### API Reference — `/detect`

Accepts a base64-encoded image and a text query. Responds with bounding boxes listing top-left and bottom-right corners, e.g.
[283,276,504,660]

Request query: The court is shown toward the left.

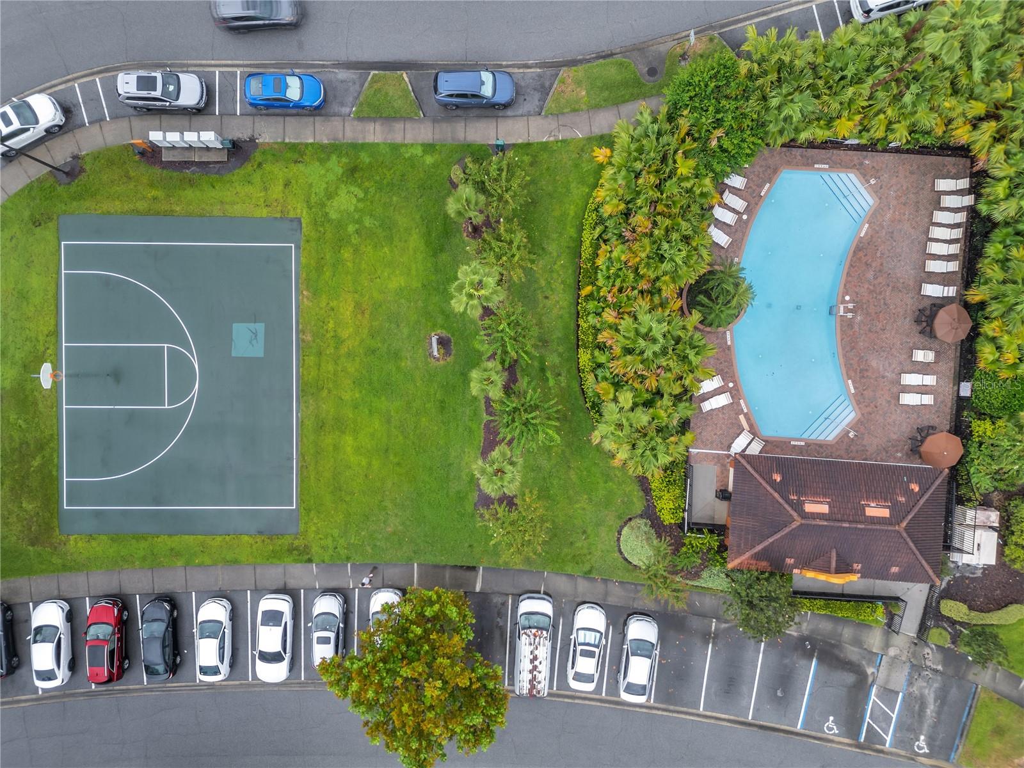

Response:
[58,215,301,535]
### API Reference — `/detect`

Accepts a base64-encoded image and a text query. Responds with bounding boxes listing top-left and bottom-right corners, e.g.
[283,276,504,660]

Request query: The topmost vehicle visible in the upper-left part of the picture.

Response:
[219,0,302,34]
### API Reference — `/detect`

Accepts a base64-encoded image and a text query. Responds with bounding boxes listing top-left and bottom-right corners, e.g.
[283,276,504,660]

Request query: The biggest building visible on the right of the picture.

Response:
[723,453,952,587]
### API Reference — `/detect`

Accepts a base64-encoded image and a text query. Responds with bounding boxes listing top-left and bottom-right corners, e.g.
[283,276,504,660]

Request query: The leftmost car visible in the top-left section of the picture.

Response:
[0,101,68,161]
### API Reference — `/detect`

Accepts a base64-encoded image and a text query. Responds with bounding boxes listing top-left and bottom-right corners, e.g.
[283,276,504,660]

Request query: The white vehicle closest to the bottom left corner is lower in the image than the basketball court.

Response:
[27,601,77,687]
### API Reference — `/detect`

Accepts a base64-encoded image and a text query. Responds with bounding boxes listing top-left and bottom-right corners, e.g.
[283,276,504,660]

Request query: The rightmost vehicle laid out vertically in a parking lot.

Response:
[614,615,658,700]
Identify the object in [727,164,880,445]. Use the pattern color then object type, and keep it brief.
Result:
blue swimming pool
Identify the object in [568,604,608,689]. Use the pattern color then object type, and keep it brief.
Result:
white car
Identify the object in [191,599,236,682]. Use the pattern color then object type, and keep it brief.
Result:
white car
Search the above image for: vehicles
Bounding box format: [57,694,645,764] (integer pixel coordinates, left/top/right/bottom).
[0,101,68,161]
[219,0,302,34]
[253,602,296,686]
[306,595,348,674]
[0,600,21,682]
[191,599,236,682]
[515,594,558,696]
[117,67,208,114]
[27,601,77,687]
[614,615,658,700]
[435,66,516,111]
[137,599,183,681]
[568,604,608,689]
[82,601,131,685]
[243,70,323,113]
[847,0,922,24]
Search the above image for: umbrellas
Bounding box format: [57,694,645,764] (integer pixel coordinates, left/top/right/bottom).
[921,302,969,344]
[911,428,959,467]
